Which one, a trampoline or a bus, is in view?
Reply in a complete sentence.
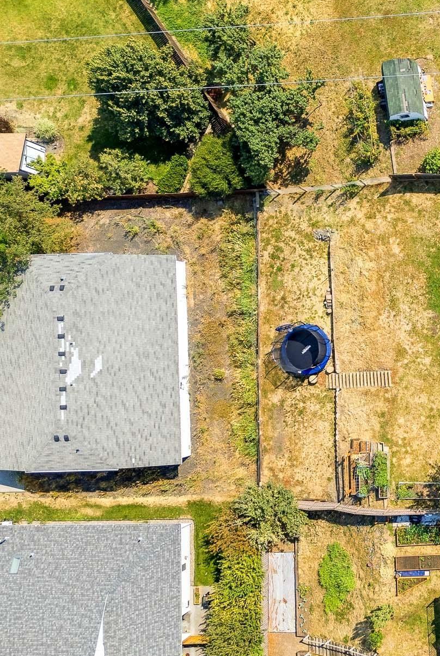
I can see a trampoline in this picture.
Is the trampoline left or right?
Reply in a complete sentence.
You can find the trampoline on the right side of the picture.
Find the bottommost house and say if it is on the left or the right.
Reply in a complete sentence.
It is on the left.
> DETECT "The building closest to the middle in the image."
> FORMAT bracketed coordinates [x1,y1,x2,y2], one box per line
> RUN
[0,250,191,471]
